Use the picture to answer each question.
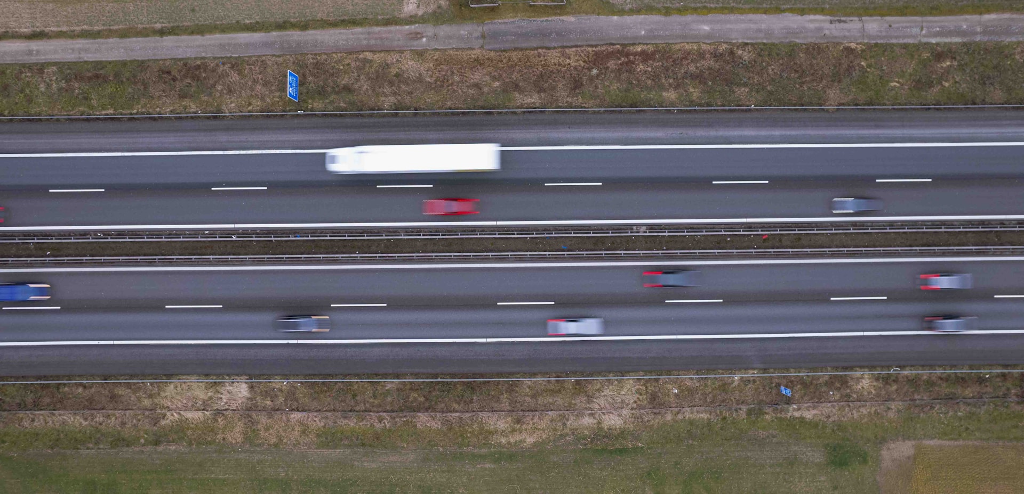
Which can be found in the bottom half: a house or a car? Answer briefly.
car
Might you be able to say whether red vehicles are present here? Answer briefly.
Yes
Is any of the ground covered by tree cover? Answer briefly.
No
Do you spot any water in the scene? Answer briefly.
No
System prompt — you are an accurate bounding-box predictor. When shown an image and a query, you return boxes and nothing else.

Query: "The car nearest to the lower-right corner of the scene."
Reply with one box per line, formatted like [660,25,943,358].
[925,314,973,333]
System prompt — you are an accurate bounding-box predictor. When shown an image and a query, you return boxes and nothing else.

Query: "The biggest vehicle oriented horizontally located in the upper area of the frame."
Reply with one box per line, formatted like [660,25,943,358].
[327,144,500,175]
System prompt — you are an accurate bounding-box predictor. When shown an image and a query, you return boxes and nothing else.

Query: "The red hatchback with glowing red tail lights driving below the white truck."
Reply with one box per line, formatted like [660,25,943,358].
[428,197,475,216]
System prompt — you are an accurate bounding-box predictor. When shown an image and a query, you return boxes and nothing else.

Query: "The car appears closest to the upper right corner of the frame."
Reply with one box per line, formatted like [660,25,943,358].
[831,195,879,214]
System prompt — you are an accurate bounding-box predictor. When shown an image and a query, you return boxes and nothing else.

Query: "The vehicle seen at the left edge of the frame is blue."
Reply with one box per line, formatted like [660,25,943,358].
[0,282,51,302]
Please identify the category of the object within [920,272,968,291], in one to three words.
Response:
car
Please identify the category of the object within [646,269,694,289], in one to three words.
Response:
car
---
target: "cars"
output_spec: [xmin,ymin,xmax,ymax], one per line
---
[280,315,328,334]
[925,314,973,333]
[552,317,600,336]
[0,282,51,302]
[646,269,694,289]
[831,195,879,214]
[428,197,475,216]
[920,272,968,291]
